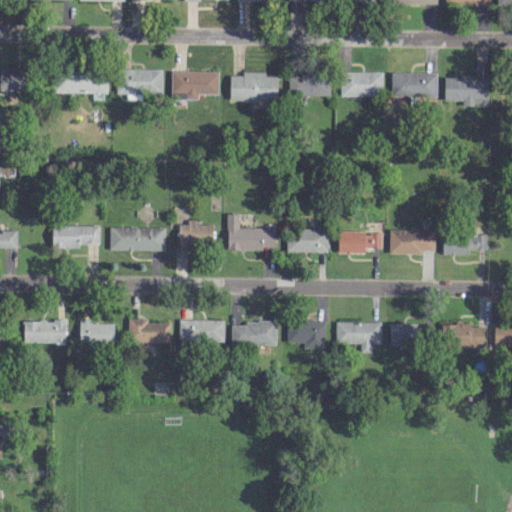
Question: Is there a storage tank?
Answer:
No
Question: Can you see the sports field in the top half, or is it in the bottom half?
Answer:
bottom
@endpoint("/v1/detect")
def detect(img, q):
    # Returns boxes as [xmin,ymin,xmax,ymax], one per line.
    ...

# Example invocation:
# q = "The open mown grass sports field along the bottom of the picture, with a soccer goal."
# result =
[56,412,512,512]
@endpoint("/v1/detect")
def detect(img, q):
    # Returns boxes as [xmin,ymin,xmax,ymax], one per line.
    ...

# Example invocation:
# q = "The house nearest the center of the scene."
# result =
[227,214,280,251]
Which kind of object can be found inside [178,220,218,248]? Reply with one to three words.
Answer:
house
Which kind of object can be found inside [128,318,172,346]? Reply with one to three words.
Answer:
house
